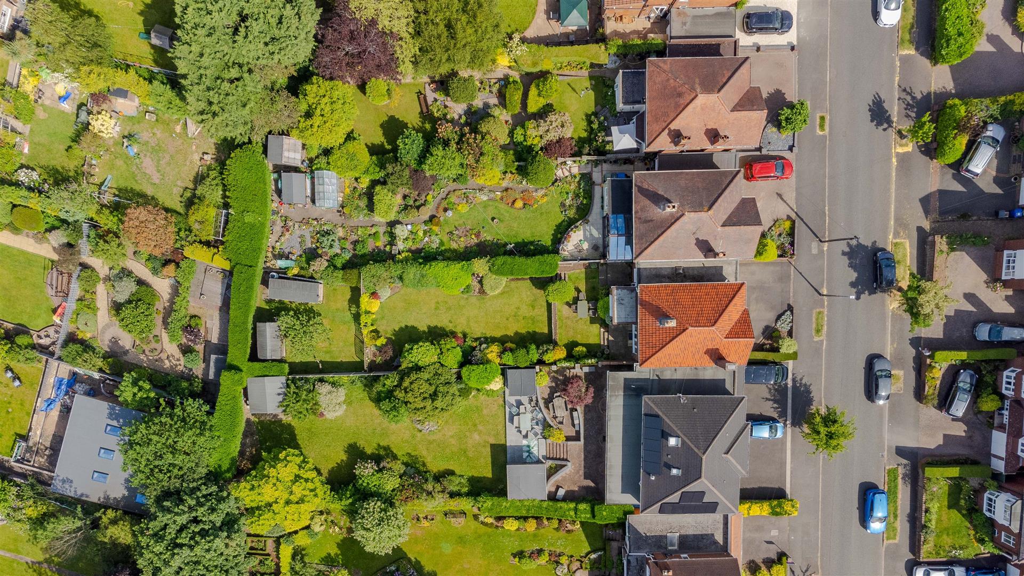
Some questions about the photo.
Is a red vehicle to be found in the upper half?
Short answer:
Yes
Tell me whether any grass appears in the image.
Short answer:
Yes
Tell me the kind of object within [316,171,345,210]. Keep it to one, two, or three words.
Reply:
greenhouse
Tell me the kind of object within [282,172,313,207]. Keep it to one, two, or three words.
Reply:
shed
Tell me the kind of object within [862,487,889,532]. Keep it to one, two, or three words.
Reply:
car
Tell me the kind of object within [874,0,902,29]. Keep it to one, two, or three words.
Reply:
car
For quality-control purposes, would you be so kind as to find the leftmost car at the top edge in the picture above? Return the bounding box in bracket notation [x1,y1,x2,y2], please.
[743,9,792,36]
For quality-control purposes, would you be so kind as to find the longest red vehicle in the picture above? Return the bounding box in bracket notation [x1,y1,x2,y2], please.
[743,158,790,182]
